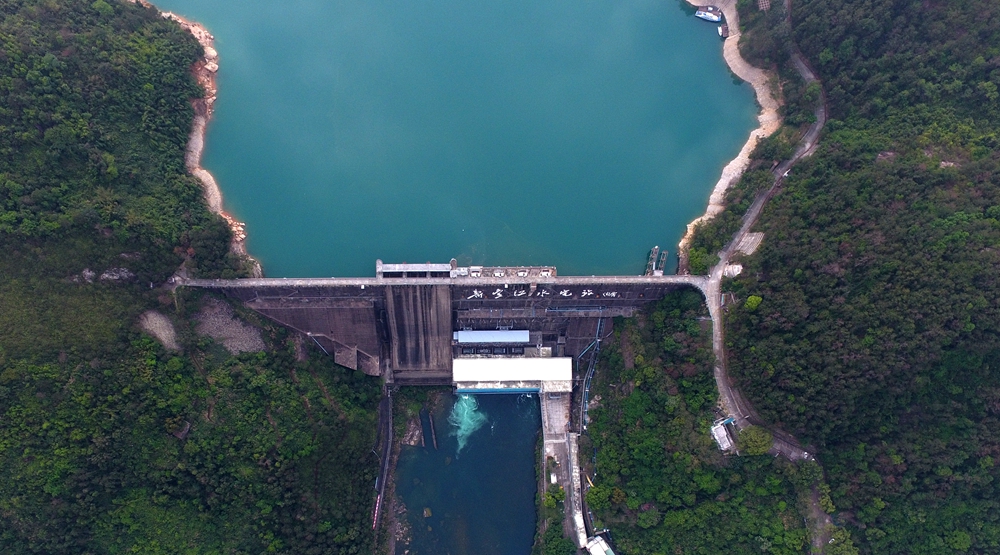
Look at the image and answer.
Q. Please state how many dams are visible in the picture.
1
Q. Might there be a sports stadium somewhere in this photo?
No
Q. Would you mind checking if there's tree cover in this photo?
Yes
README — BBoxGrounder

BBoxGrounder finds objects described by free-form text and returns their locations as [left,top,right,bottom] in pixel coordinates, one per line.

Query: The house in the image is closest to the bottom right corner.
[710,418,738,457]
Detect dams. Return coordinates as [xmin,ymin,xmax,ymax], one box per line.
[185,259,716,387]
